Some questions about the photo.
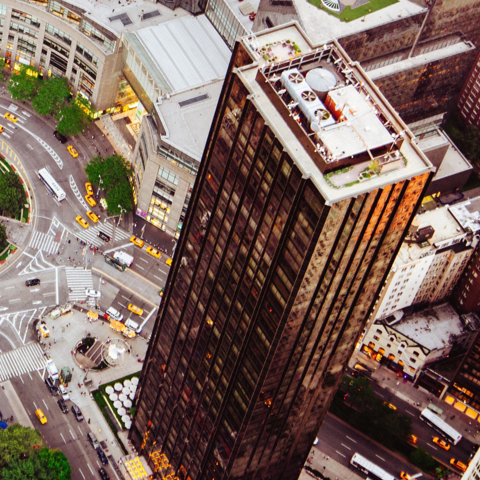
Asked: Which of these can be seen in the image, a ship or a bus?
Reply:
bus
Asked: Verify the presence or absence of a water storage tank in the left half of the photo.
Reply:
No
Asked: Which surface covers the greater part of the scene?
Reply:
buildings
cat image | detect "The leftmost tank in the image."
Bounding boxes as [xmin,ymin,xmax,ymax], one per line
[305,64,333,98]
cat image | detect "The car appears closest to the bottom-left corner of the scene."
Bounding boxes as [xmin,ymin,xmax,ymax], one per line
[34,410,49,424]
